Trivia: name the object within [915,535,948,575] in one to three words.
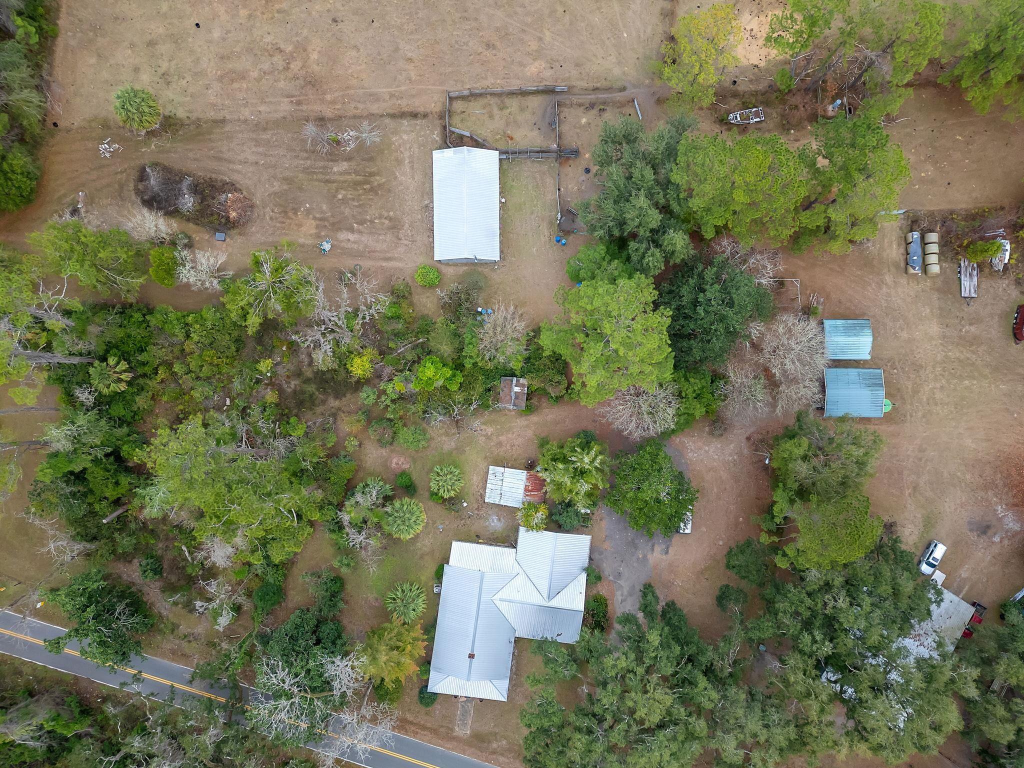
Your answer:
car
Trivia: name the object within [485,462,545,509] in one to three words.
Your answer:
shed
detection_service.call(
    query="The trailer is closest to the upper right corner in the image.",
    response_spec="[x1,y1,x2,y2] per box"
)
[955,262,980,306]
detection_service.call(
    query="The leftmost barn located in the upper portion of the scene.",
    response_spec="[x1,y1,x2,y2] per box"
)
[432,146,500,263]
